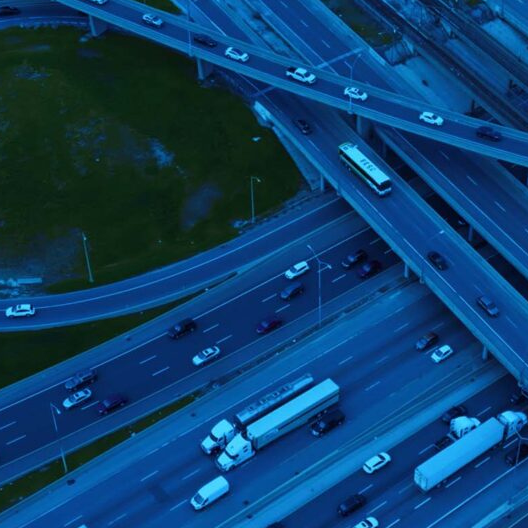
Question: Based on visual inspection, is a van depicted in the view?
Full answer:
Yes, this view includes a van.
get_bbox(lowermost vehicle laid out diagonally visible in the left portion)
[190,472,232,508]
